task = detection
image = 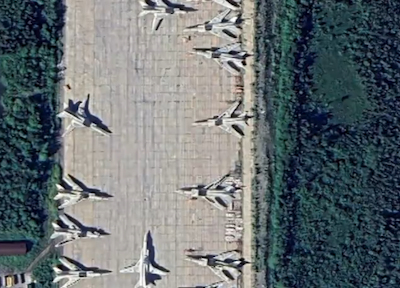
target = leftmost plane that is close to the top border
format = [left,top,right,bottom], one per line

[140,0,193,31]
